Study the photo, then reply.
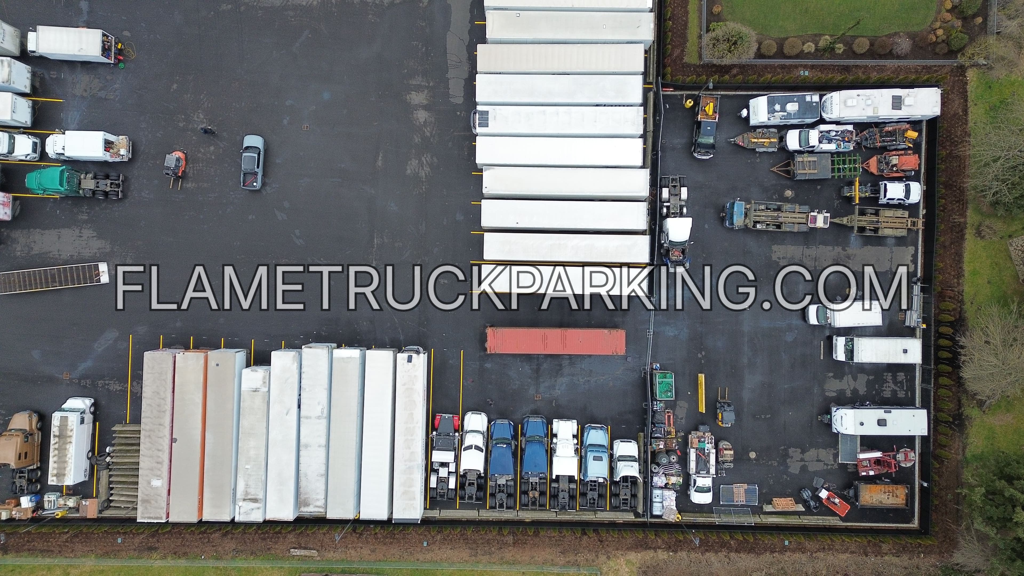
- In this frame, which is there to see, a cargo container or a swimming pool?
cargo container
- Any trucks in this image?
Yes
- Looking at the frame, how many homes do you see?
0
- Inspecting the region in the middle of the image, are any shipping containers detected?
Yes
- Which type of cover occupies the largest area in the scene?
paved ground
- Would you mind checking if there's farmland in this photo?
No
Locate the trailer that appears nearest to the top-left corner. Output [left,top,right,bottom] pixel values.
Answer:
[0,18,22,57]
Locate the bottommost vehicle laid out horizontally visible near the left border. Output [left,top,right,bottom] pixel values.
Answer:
[26,162,123,199]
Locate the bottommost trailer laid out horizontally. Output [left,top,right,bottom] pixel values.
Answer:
[840,478,911,509]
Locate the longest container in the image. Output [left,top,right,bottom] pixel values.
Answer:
[486,326,625,354]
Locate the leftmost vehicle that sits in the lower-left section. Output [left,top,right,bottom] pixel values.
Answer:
[0,409,46,496]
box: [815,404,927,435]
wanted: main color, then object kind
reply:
white vehicle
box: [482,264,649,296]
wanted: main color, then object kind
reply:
white trailer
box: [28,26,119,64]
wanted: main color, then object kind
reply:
white truck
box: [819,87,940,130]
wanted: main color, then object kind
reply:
white camper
